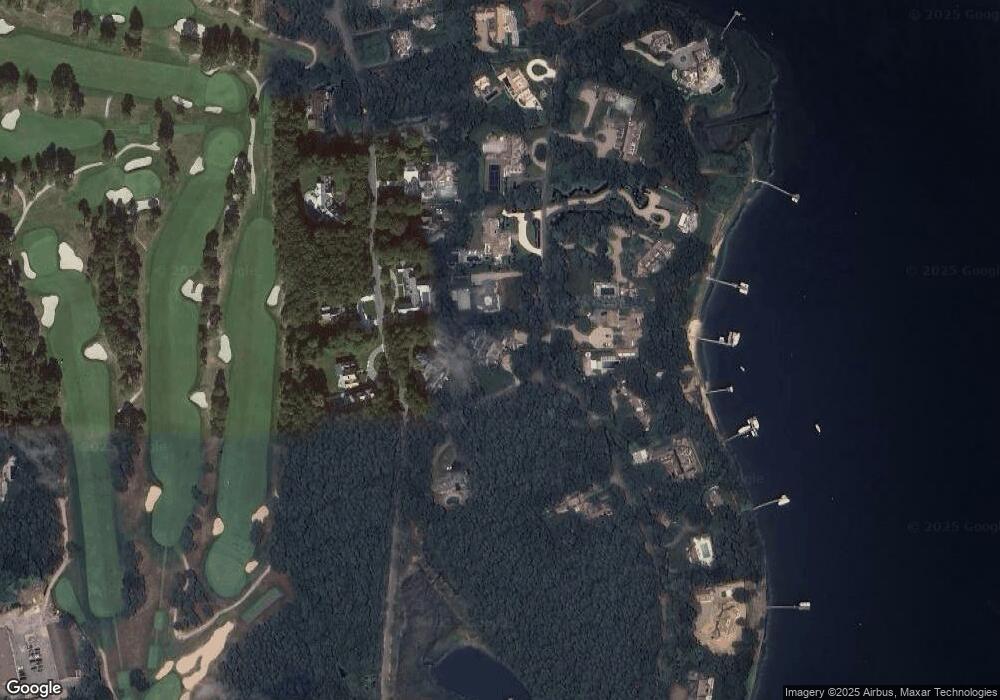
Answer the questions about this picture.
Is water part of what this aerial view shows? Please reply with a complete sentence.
Yes, there is water in the image.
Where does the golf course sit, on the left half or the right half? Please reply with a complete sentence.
The golf course sits on the left side.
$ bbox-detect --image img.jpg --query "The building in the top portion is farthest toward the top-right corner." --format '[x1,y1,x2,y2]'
[684,40,724,94]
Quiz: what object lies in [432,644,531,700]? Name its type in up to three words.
pond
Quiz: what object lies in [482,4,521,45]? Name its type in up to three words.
house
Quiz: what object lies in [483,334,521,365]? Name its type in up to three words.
house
